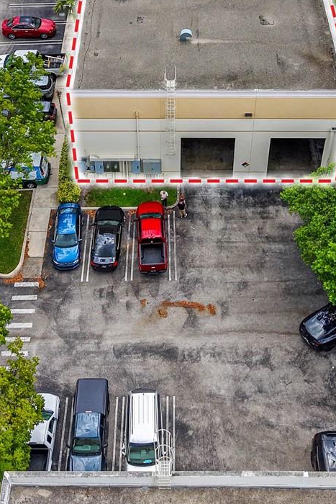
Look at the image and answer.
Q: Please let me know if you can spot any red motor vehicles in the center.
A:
Yes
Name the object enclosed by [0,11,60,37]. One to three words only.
car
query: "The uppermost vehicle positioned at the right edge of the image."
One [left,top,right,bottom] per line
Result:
[298,297,336,349]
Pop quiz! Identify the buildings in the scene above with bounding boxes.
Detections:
[4,471,336,504]
[67,0,336,182]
